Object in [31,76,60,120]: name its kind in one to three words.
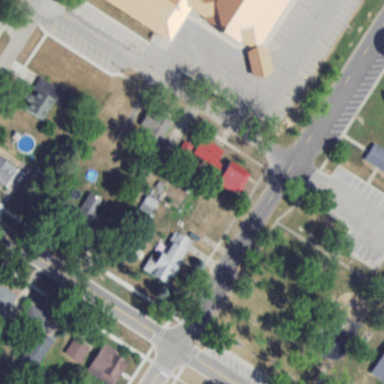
house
